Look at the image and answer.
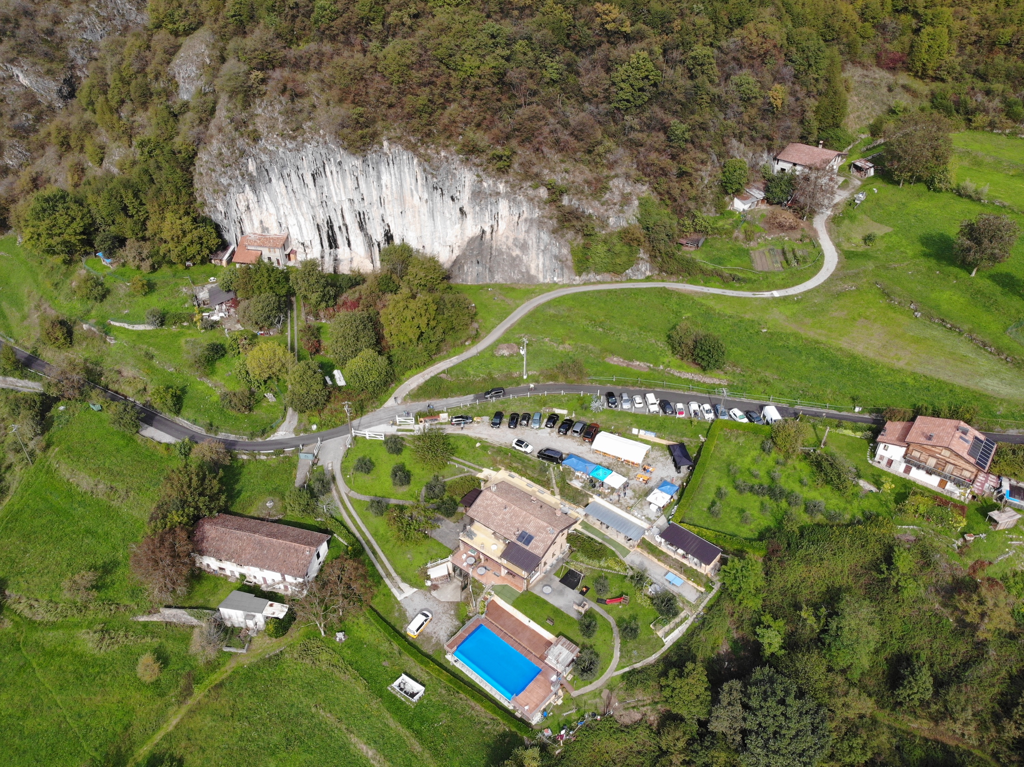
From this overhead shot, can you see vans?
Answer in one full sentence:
Yes, the image includes a van.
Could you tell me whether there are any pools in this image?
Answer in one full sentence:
Yes, looking at the shot, I can spot a pool.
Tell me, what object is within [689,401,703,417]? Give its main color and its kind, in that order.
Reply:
white car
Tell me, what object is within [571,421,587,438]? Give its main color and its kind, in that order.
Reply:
gray car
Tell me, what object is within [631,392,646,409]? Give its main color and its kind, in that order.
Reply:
white car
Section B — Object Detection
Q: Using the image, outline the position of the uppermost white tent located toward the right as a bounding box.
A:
[591,433,649,467]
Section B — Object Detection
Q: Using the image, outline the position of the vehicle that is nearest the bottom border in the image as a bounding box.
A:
[403,611,432,640]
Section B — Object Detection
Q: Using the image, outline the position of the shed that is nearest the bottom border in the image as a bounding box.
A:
[545,636,578,674]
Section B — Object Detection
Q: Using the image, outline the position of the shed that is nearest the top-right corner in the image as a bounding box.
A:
[851,158,877,180]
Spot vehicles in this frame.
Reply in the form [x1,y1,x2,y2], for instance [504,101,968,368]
[606,391,618,408]
[403,611,432,640]
[631,392,646,409]
[519,412,531,427]
[544,414,560,429]
[619,390,633,410]
[583,425,600,442]
[558,420,573,435]
[484,387,505,400]
[530,410,543,429]
[508,413,520,429]
[730,405,751,423]
[647,392,661,411]
[747,409,766,425]
[450,417,472,428]
[675,401,686,416]
[571,421,587,438]
[855,190,866,202]
[537,449,563,464]
[762,399,783,422]
[701,402,715,419]
[659,398,675,414]
[689,401,703,417]
[512,438,533,453]
[491,410,505,428]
